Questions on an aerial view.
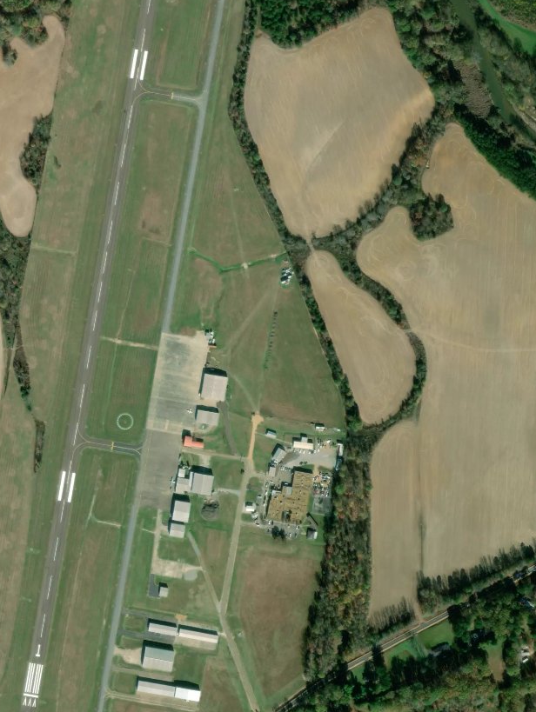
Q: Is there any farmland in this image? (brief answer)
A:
Yes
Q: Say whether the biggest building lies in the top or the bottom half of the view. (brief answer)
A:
bottom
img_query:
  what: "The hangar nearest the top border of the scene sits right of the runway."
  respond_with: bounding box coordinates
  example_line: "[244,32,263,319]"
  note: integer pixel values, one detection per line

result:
[201,374,228,401]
